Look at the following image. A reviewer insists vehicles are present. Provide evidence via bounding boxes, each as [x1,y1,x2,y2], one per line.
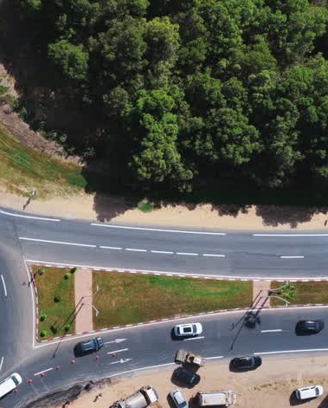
[168,389,187,408]
[172,323,201,338]
[293,384,323,400]
[75,337,104,355]
[170,367,200,383]
[229,356,260,371]
[199,389,236,406]
[0,372,22,398]
[111,385,161,408]
[172,350,205,366]
[296,320,323,332]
